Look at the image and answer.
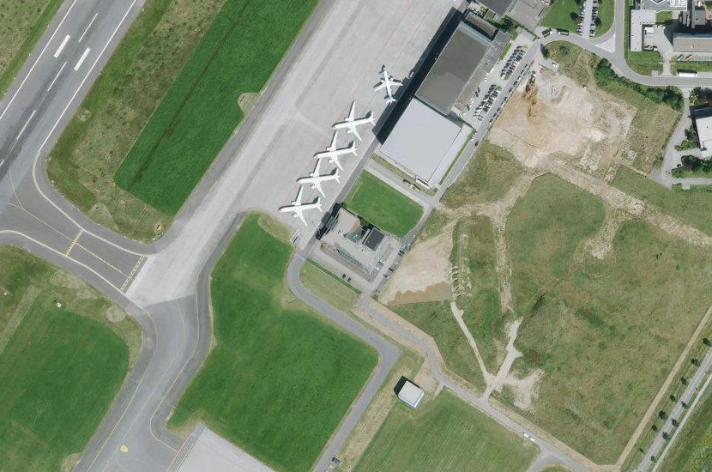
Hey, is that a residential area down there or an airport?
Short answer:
airport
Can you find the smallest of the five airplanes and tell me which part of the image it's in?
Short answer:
top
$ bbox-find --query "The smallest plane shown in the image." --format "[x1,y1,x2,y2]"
[374,68,403,102]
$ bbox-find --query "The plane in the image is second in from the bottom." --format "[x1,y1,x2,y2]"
[297,158,340,197]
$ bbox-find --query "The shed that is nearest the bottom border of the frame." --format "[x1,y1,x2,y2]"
[398,380,425,408]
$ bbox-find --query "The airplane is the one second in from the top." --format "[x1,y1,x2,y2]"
[333,102,376,142]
